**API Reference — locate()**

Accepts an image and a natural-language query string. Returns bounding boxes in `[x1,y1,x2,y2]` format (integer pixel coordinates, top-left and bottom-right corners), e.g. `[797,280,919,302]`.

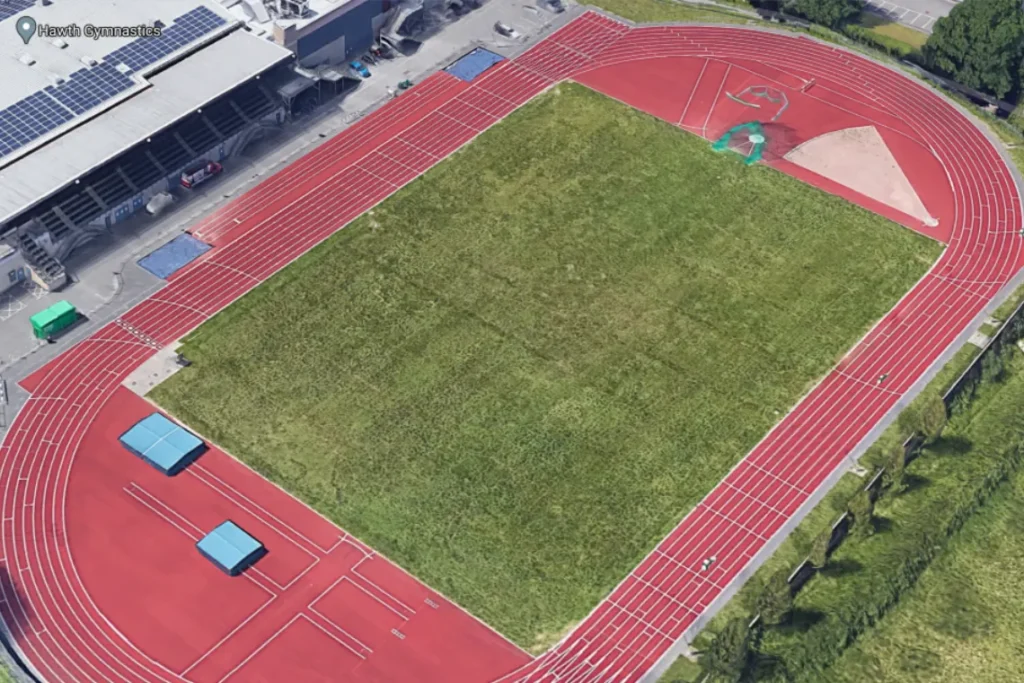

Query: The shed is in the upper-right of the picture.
[963,92,992,116]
